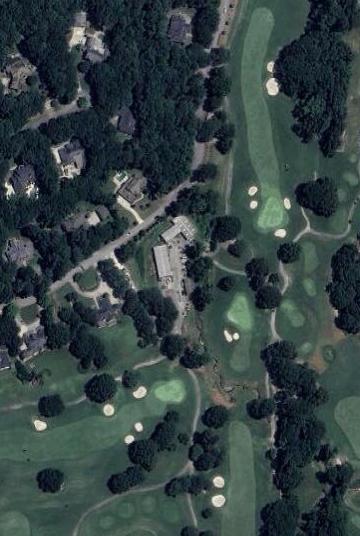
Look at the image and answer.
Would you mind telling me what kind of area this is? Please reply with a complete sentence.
This image shows a golf course.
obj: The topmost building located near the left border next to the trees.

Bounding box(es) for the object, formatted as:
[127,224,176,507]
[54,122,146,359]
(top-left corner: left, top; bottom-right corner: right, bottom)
[1,59,37,90]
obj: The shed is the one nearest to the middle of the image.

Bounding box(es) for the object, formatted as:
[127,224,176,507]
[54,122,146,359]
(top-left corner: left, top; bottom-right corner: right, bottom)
[154,244,173,278]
